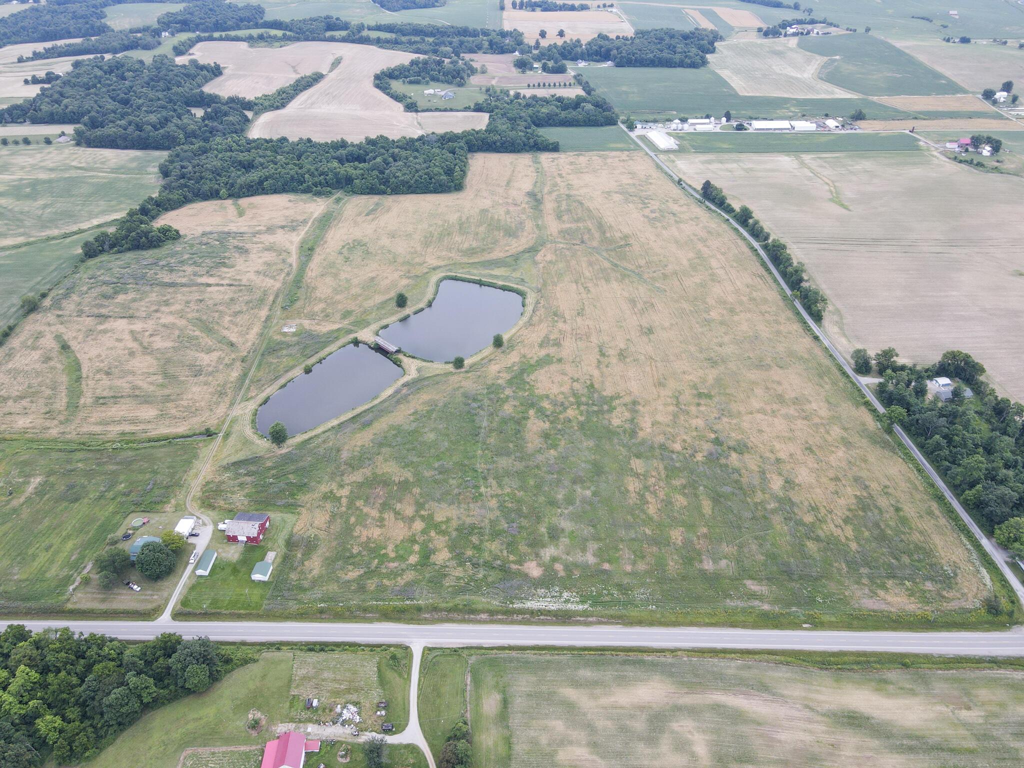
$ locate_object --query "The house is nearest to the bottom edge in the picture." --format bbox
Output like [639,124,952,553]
[262,730,323,768]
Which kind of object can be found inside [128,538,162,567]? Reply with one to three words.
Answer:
house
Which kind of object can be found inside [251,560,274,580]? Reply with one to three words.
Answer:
shed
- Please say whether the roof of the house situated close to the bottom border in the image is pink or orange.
pink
